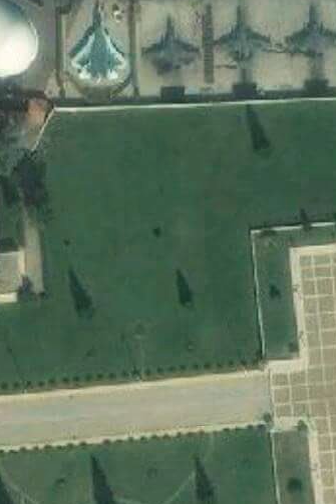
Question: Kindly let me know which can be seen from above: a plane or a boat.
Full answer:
There is a plane in the scene.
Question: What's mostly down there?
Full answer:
What you mostly see from above here is grass.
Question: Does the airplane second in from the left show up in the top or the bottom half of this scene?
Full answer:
The airplane second in from the left is in the top half of the image.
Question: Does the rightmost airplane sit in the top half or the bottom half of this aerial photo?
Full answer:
The top half of the photo is where the rightmost airplane is.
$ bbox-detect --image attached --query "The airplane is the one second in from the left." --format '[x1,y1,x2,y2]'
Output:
[143,16,200,75]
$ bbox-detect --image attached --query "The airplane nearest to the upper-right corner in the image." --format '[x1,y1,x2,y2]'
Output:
[287,7,336,59]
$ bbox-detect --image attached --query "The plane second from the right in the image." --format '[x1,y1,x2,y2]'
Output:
[215,6,272,62]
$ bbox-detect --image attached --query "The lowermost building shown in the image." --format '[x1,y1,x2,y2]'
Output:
[0,251,24,302]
